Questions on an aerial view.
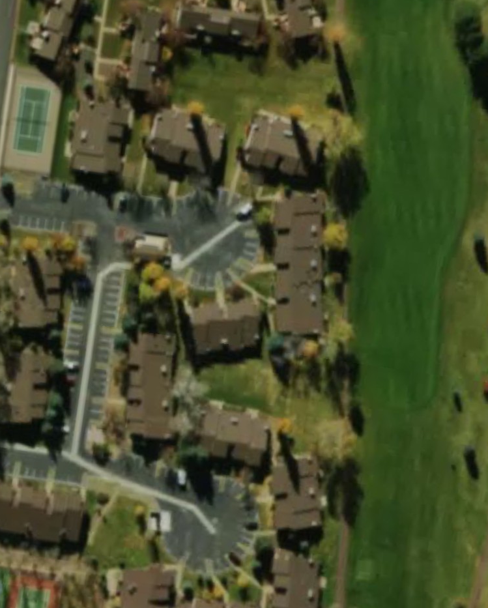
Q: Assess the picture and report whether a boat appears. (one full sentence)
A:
No, the photo shows no boat.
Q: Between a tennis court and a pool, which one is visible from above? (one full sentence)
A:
This aerial view contains a tennis court.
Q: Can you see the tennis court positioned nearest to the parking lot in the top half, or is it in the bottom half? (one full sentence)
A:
The top half of the photo is where the tennis court positioned nearest to the parking lot is.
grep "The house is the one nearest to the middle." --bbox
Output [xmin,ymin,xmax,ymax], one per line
[189,298,265,363]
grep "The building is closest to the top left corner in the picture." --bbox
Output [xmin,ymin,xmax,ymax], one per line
[22,0,75,58]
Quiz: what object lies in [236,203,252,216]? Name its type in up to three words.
vehicle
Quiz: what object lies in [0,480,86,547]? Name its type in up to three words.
house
